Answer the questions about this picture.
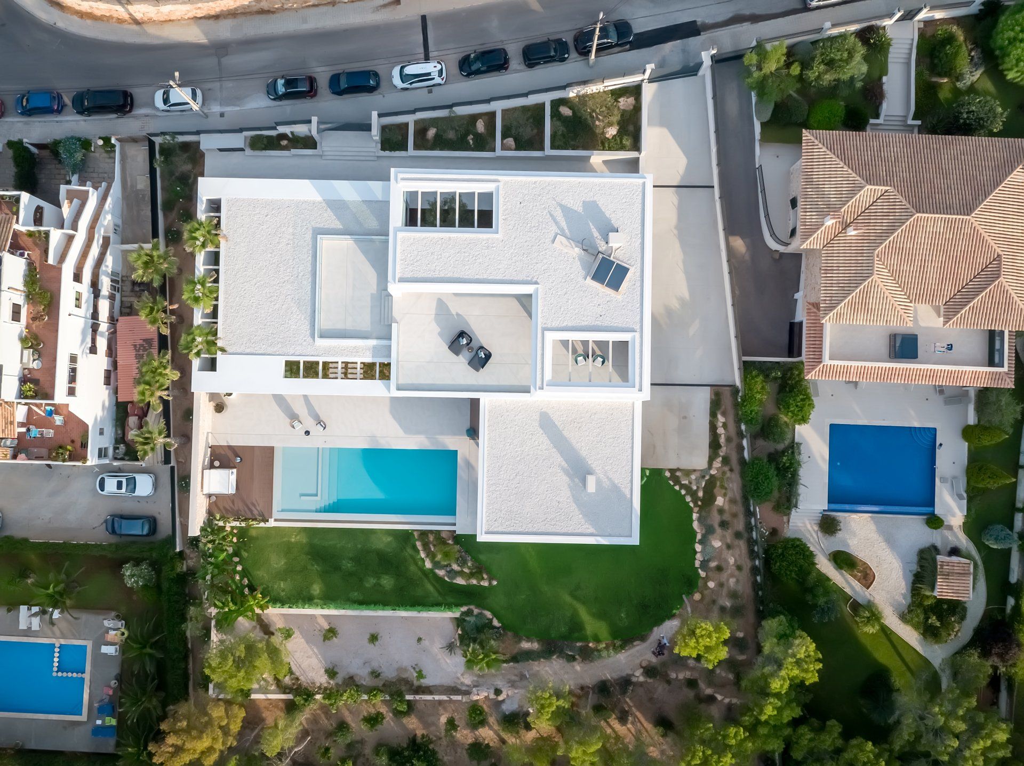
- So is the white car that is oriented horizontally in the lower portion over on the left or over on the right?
left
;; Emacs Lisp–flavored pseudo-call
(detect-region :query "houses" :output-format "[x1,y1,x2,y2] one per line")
[0,139,141,466]
[783,129,1024,388]
[191,169,652,545]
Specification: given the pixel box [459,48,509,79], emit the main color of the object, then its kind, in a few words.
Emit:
black car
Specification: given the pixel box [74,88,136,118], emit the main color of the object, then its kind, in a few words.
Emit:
black car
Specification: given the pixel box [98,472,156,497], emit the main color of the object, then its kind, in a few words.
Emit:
white car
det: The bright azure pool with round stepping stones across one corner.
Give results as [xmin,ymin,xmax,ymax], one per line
[0,607,119,753]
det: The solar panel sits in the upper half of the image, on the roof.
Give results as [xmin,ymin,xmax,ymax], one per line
[585,251,632,298]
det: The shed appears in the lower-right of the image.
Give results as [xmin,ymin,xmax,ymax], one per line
[924,554,973,602]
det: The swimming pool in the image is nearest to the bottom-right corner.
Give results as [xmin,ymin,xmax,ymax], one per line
[822,420,941,524]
